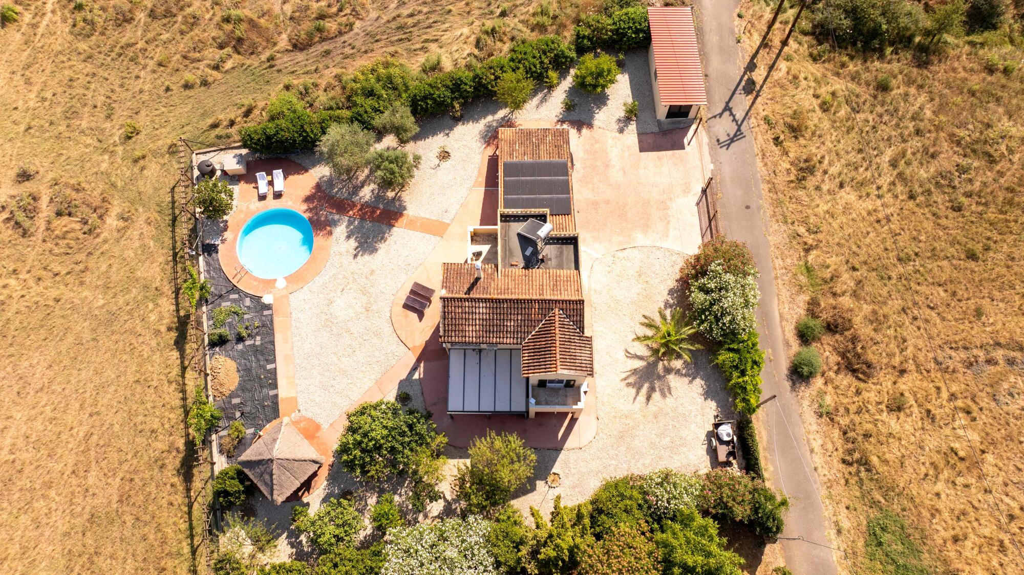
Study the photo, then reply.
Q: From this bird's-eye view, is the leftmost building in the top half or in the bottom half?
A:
top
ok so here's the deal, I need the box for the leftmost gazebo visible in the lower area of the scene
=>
[235,418,327,506]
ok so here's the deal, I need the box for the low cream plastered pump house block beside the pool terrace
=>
[220,148,246,175]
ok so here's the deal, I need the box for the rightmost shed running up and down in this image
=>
[648,5,707,131]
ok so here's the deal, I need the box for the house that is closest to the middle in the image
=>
[436,127,595,413]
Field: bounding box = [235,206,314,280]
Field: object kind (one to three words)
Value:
swimming pool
